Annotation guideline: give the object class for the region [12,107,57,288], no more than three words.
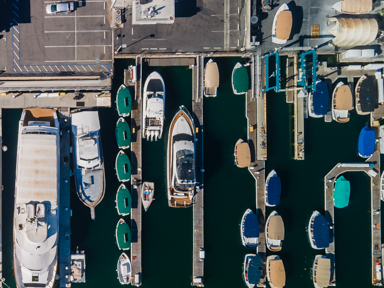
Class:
boat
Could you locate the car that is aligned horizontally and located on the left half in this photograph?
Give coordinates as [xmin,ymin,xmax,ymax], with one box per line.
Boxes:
[45,1,75,15]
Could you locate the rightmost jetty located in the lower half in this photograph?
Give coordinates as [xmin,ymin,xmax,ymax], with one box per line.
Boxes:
[323,117,381,285]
